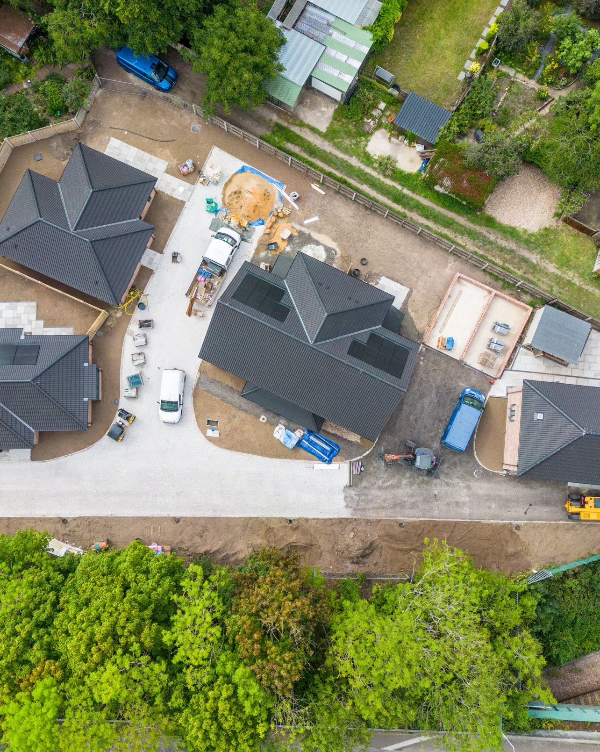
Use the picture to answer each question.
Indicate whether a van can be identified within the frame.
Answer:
Yes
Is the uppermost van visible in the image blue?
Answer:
Yes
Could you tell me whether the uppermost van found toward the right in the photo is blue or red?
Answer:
blue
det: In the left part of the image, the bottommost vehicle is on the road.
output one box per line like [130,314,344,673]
[106,404,145,447]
